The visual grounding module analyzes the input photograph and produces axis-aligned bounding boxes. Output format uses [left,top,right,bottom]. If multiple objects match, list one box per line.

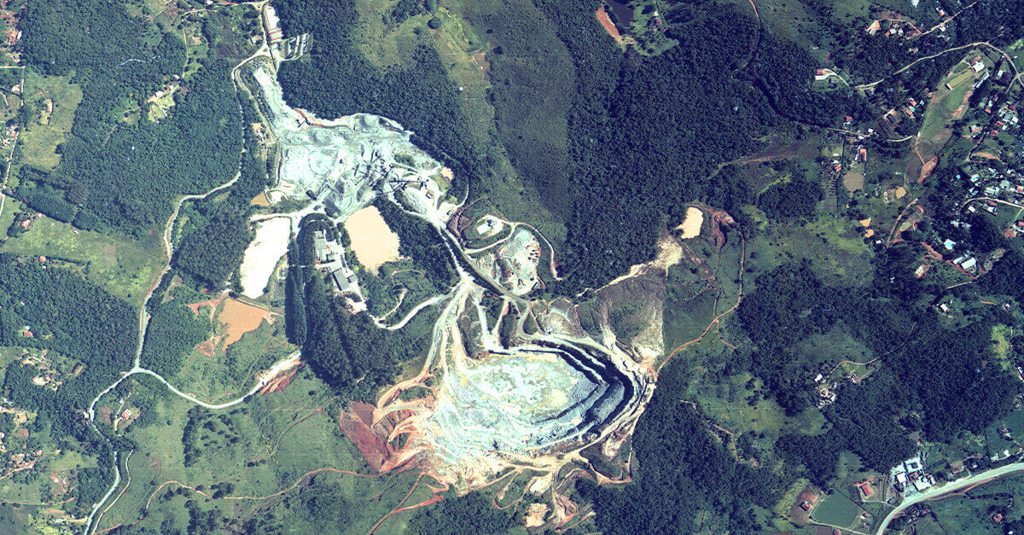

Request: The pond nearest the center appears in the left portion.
[346,206,399,273]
